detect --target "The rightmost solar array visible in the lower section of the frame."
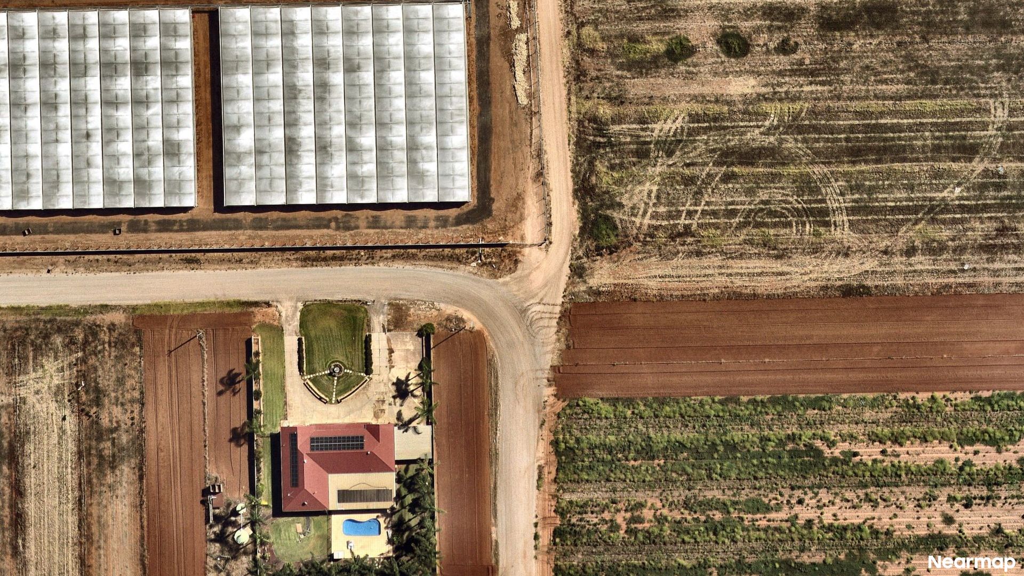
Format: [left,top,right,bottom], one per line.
[310,435,364,450]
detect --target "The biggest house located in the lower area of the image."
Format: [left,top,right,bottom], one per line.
[280,424,395,512]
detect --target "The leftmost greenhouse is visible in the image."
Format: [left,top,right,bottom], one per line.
[0,7,196,210]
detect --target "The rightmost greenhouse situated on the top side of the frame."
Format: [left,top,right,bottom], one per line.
[219,3,471,207]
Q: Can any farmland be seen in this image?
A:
Yes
